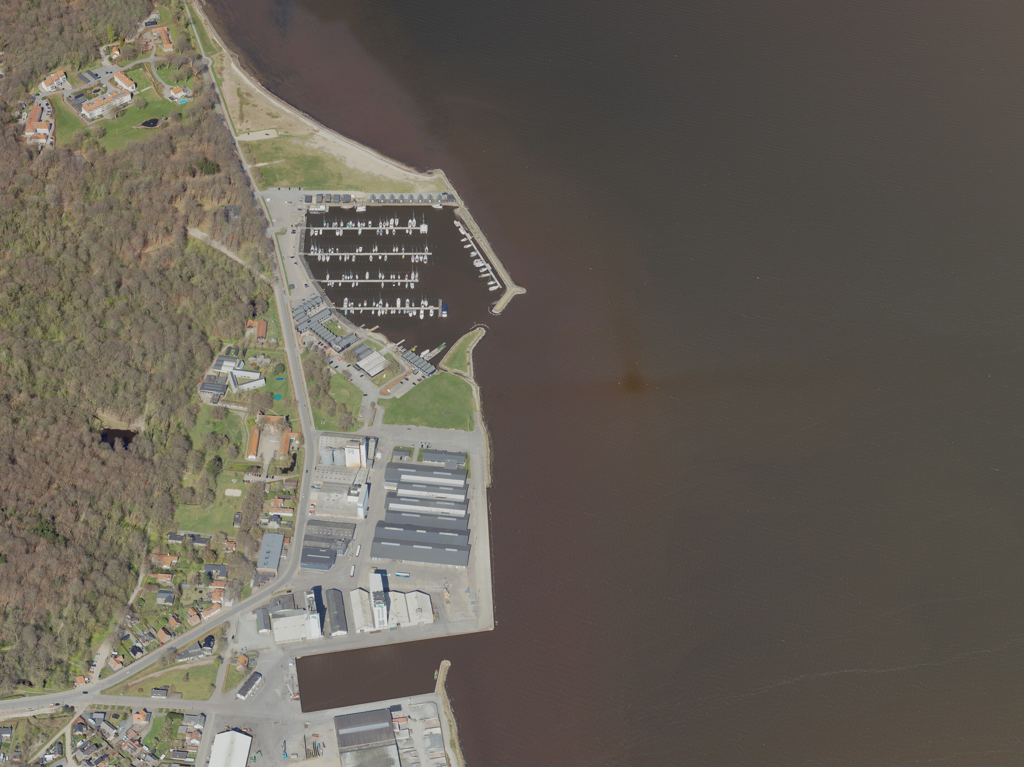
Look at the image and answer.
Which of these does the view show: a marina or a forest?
marina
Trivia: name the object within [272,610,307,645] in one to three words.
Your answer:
building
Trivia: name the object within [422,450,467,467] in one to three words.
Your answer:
house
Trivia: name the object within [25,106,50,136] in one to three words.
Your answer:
building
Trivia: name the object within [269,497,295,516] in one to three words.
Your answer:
house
